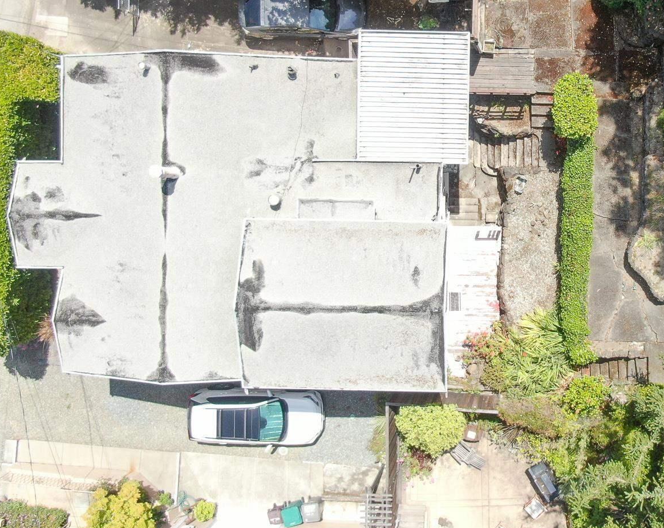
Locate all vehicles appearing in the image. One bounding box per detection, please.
[237,0,369,48]
[188,384,326,454]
